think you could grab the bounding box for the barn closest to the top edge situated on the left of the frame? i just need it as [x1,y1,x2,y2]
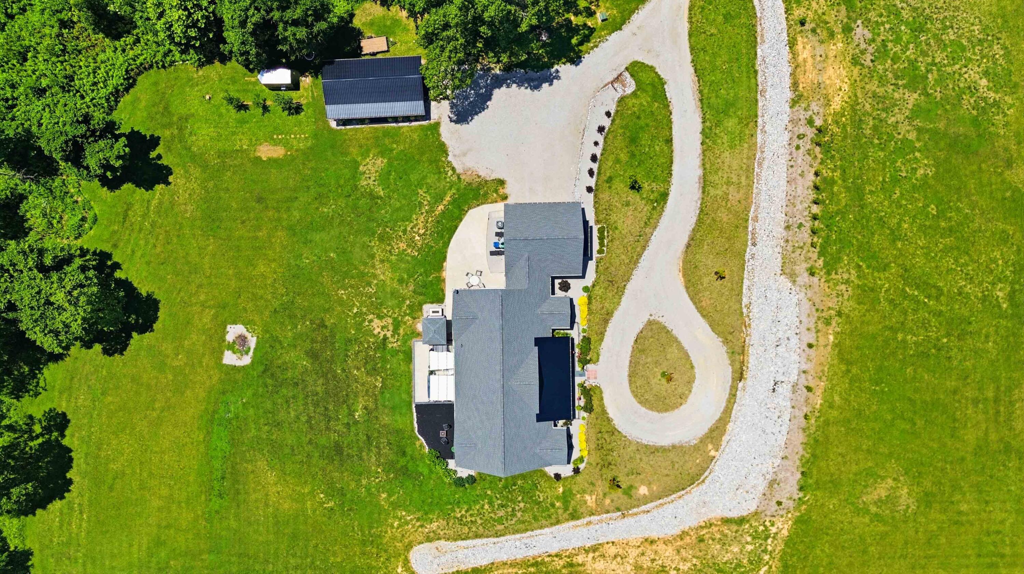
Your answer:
[321,55,425,123]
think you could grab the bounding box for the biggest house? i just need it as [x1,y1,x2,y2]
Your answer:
[451,201,590,477]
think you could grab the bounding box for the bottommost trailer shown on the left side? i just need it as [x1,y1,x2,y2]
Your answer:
[255,69,294,89]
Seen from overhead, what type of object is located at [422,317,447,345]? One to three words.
shed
